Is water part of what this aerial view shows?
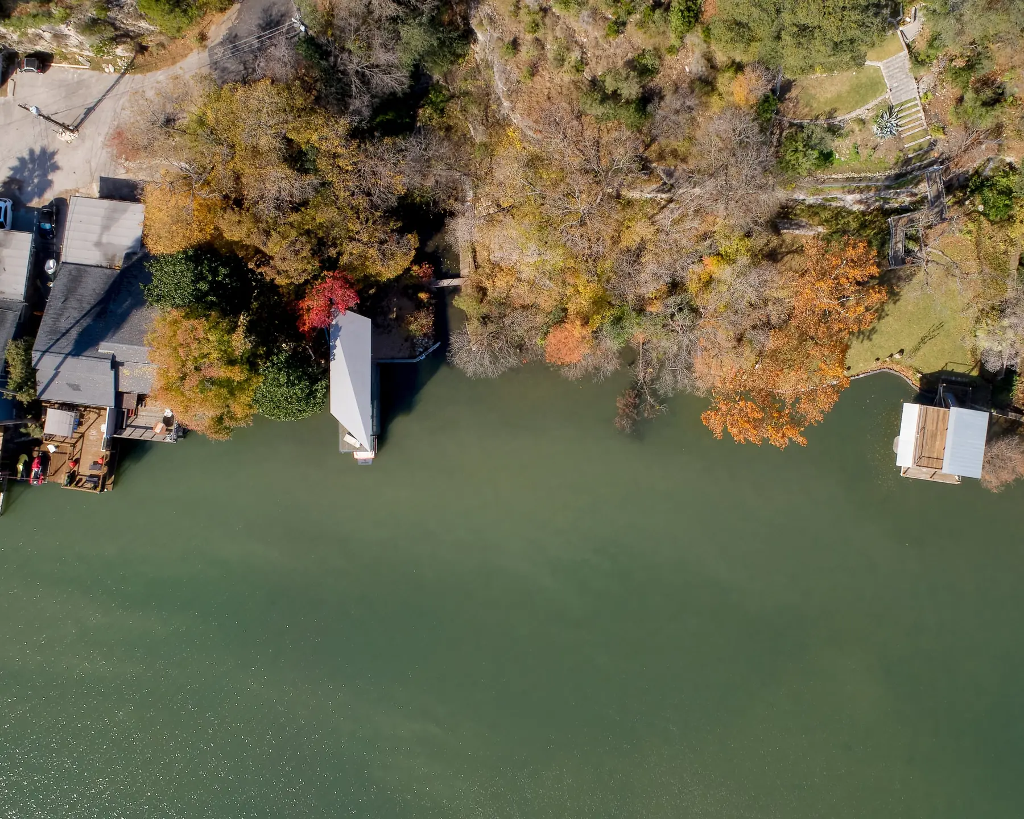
Yes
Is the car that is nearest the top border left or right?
left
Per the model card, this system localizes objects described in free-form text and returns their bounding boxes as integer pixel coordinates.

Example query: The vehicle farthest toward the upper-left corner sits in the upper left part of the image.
[8,49,47,73]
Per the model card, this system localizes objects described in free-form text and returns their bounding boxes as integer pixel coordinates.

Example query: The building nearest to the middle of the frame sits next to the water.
[323,308,381,454]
